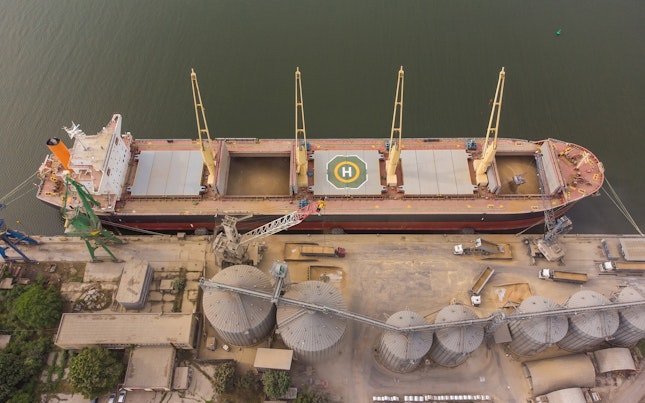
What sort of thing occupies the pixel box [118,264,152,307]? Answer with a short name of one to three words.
building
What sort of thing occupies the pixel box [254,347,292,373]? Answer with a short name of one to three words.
shed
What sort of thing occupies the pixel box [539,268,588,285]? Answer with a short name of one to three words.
vehicle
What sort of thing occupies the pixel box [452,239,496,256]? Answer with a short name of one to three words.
vehicle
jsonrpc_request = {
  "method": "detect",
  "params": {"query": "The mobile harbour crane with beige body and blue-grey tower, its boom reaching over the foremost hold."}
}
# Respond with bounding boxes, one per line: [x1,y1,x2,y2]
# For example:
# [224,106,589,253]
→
[520,145,566,266]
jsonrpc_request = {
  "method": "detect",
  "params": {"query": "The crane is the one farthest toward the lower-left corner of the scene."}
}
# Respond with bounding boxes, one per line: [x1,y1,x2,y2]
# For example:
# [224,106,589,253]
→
[0,213,39,262]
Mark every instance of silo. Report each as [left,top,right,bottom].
[429,304,486,369]
[202,264,278,346]
[506,294,571,360]
[377,309,434,375]
[610,282,645,348]
[275,281,349,363]
[560,288,620,354]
